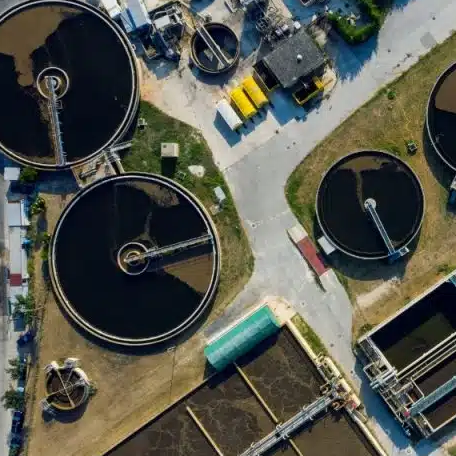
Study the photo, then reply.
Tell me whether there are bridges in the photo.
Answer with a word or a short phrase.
Yes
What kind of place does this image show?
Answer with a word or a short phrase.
industrial area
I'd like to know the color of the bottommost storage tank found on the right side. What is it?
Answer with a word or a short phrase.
black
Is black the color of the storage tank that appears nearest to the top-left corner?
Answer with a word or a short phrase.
Yes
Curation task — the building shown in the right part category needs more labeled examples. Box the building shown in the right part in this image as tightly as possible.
[264,32,326,89]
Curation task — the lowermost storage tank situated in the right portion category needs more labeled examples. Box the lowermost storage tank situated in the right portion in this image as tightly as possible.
[316,150,424,259]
